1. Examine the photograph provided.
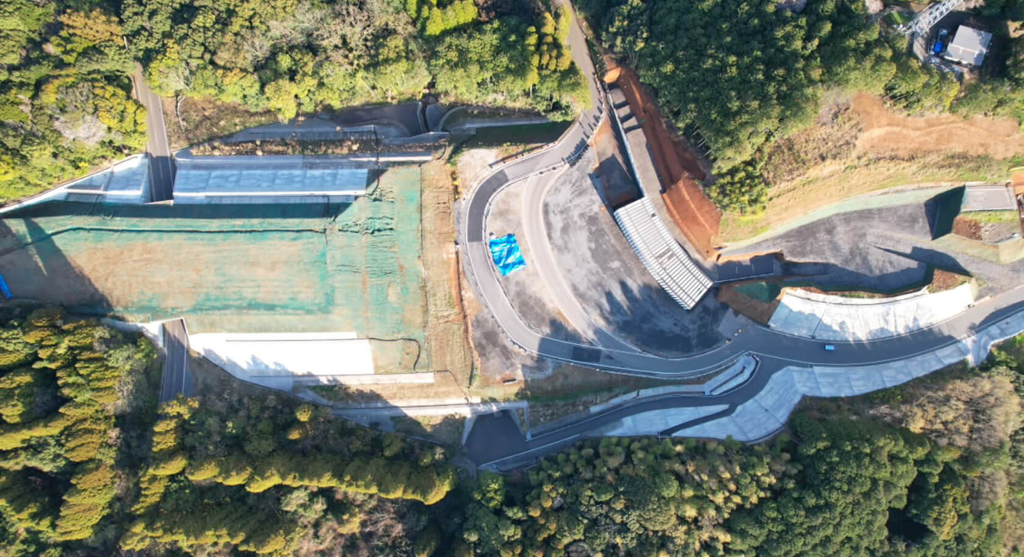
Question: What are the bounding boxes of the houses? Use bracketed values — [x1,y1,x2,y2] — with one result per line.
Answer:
[939,26,992,67]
